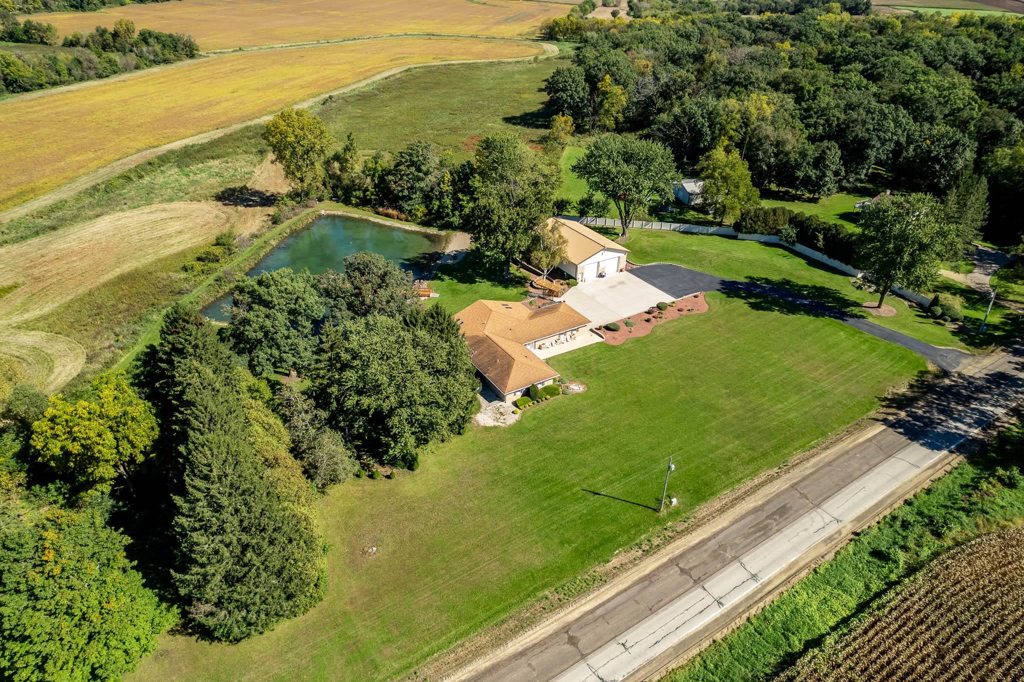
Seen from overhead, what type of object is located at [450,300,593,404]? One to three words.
house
